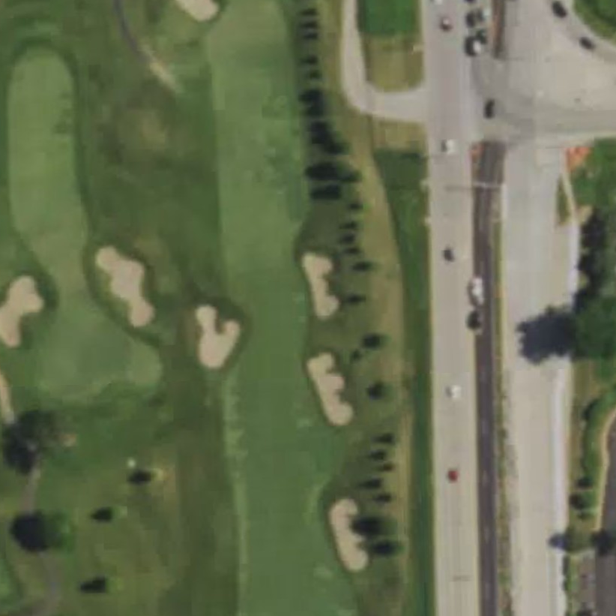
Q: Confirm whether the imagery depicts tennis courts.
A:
No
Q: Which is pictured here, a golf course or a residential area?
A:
golf course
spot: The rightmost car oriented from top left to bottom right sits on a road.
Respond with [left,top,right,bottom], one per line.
[579,36,597,50]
